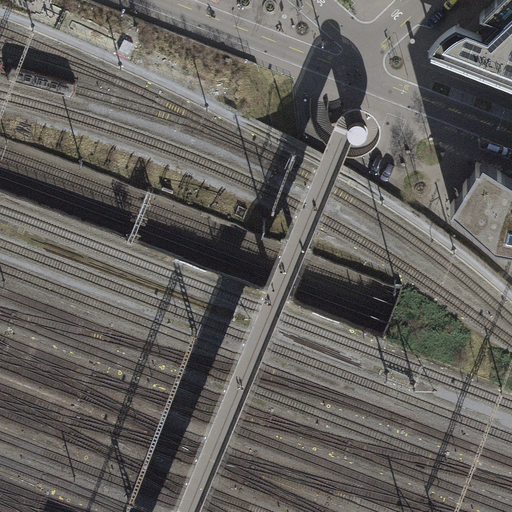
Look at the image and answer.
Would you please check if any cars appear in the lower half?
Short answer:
No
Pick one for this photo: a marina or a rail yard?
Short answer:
rail yard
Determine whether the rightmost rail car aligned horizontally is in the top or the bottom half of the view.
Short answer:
top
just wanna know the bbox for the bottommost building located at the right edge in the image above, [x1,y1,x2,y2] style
[448,156,512,268]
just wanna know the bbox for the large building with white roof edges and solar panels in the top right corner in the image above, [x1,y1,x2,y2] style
[428,0,512,96]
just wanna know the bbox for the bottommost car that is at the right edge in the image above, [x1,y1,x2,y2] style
[486,142,510,156]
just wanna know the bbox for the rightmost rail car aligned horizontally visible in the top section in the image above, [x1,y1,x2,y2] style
[4,66,78,94]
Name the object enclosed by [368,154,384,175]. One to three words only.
car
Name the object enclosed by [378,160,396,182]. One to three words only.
car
